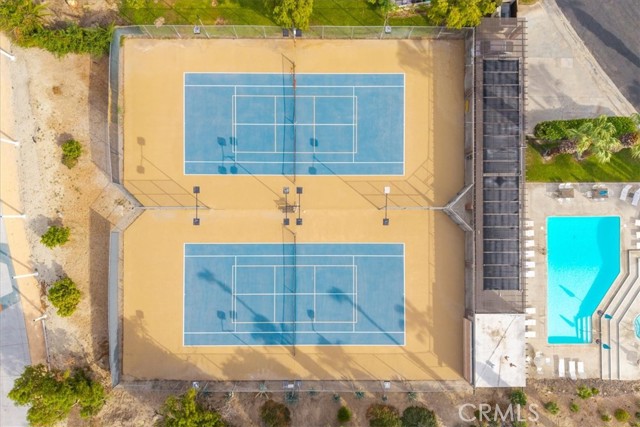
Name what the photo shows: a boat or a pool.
pool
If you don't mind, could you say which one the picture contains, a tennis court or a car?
tennis court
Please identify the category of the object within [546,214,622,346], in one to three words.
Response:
swimming pool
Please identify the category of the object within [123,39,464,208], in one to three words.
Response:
tennis court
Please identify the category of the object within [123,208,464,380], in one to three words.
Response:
tennis court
